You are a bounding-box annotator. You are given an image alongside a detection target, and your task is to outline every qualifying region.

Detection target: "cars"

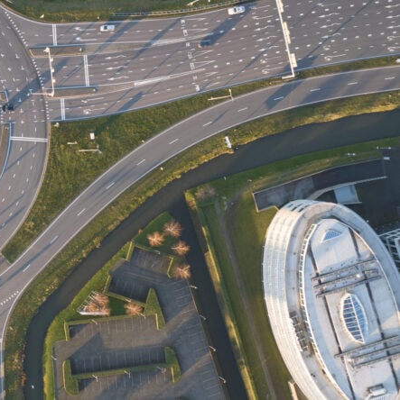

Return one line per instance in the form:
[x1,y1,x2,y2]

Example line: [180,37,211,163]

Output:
[1,104,16,111]
[230,5,247,13]
[101,24,116,31]
[199,39,214,46]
